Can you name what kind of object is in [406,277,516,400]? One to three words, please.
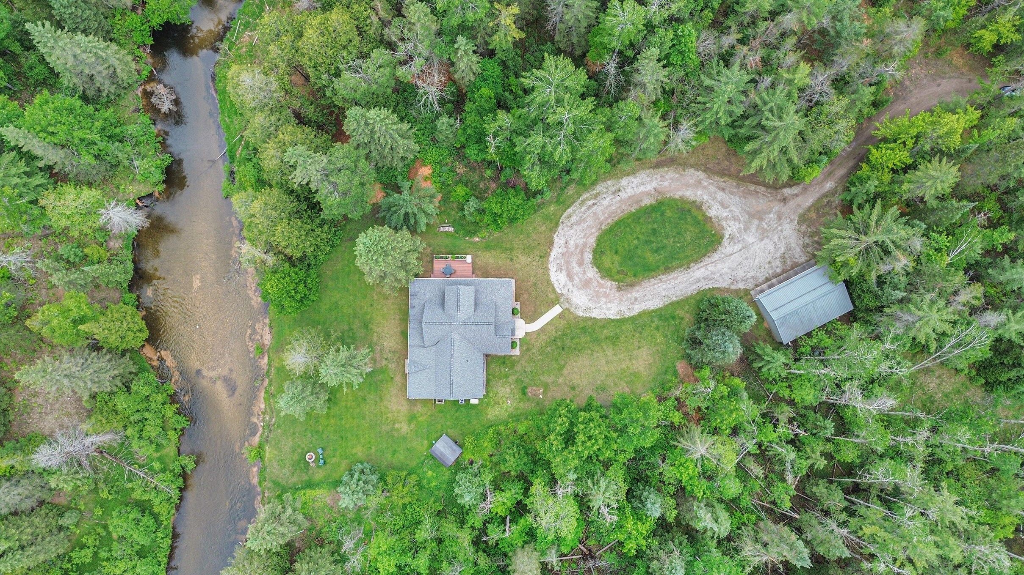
house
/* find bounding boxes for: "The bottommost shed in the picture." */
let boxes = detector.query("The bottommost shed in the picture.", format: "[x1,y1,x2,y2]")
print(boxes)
[429,434,462,470]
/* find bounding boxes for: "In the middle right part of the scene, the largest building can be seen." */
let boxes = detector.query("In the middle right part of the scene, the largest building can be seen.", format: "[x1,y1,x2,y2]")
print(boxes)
[748,260,854,345]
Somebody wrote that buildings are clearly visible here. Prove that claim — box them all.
[406,277,516,400]
[748,260,854,345]
[429,434,462,470]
